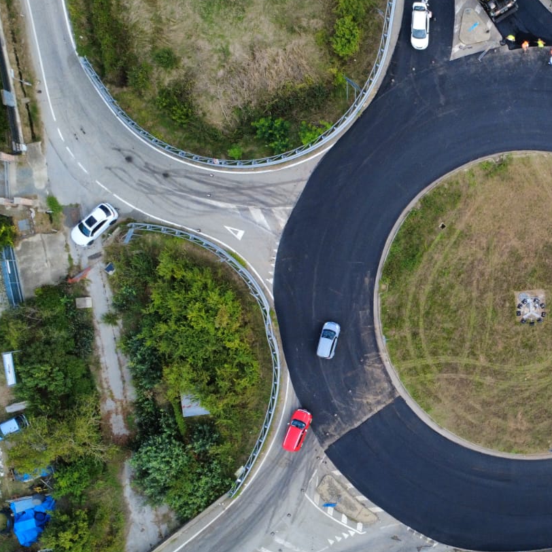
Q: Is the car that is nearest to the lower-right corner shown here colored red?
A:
Yes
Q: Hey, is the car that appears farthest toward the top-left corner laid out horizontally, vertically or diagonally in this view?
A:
diagonally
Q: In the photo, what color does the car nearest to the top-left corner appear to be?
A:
white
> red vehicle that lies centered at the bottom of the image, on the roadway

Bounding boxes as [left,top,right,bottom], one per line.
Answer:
[282,409,312,453]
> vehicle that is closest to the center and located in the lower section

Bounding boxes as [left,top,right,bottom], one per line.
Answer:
[316,322,341,360]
